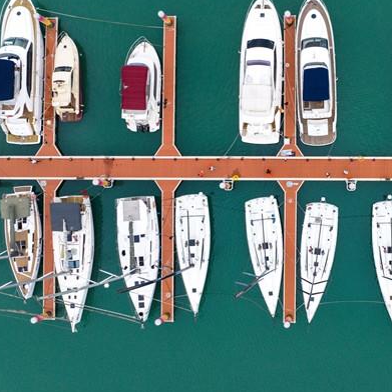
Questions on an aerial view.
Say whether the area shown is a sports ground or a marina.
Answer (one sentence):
The picture captures a marina.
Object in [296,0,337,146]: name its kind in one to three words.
boat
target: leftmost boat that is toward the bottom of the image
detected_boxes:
[0,186,43,304]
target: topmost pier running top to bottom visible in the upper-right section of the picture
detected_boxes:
[276,15,303,156]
